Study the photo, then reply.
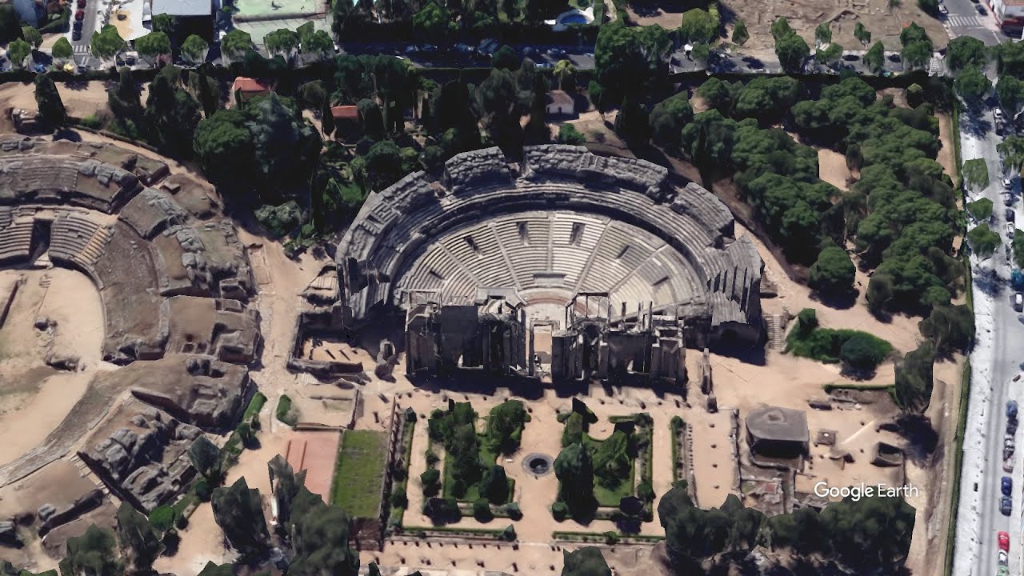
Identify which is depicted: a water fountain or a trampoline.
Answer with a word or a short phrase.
water fountain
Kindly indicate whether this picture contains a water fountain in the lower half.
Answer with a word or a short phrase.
Yes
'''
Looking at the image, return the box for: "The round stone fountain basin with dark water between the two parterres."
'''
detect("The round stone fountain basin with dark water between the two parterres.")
[521,451,554,476]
